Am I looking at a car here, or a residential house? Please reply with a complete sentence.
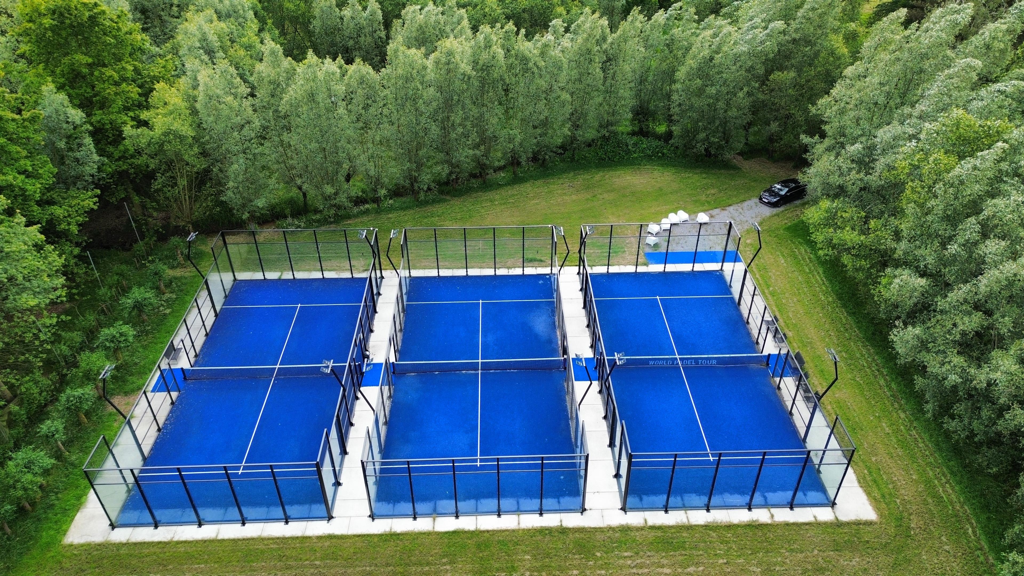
Visible in the photo is a car.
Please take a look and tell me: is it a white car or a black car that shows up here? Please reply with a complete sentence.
Of the two, only a black car appears.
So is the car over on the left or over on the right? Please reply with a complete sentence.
The car is on the right side of the image.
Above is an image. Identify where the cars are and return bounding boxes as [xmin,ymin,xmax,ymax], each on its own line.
[760,176,810,206]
